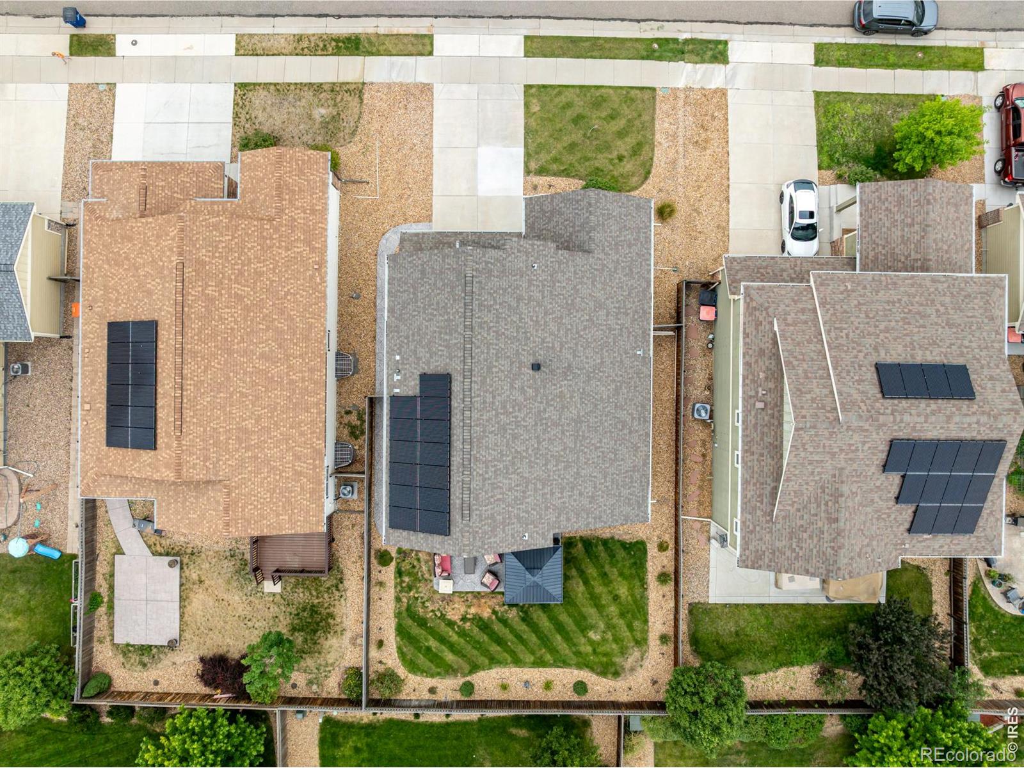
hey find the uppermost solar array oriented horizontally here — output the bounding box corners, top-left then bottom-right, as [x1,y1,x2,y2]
[876,363,976,401]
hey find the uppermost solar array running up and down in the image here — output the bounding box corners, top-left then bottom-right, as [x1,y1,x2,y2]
[106,319,157,451]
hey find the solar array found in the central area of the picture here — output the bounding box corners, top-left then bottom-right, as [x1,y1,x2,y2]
[389,374,451,537]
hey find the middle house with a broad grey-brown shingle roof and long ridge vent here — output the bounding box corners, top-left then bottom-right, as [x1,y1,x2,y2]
[382,190,657,554]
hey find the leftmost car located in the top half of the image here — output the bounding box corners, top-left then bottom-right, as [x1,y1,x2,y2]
[780,179,825,254]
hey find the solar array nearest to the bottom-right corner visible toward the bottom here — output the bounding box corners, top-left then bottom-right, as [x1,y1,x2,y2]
[884,439,1006,535]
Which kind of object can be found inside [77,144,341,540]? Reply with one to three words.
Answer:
house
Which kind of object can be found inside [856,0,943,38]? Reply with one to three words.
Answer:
car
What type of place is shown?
residential area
